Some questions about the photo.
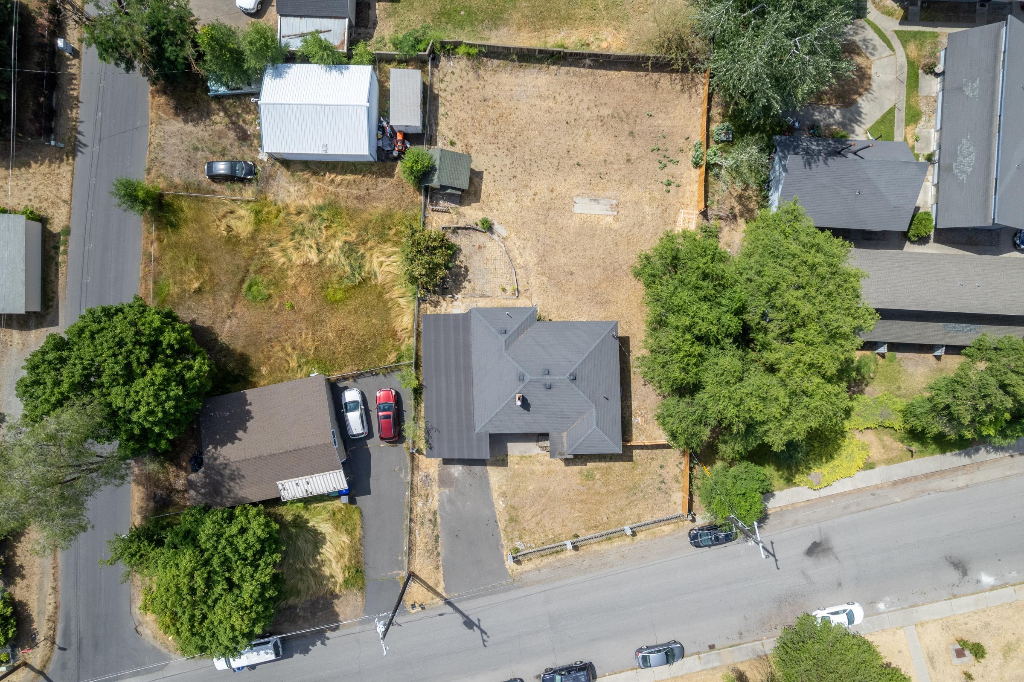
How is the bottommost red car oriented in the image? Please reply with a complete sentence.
I'd say the bottommost red car is aligned up and down in the picture.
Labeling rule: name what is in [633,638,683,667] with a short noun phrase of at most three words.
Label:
car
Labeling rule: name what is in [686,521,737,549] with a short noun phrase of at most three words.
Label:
car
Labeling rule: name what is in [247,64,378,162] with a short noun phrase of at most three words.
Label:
building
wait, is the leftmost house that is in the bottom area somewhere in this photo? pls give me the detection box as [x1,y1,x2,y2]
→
[188,368,353,505]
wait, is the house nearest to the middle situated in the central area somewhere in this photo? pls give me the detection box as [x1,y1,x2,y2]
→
[422,306,623,459]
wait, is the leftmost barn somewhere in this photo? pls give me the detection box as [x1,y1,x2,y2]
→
[0,214,42,315]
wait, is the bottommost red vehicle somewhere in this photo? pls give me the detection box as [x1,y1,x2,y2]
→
[374,388,400,441]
